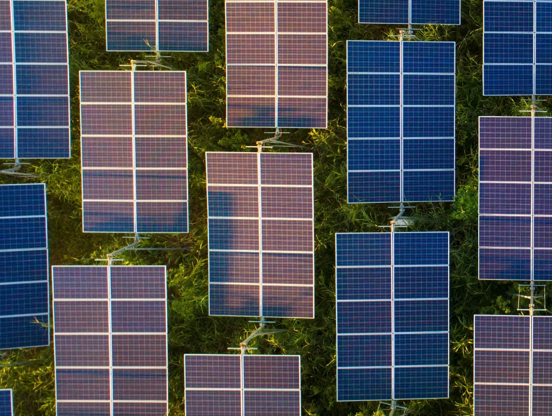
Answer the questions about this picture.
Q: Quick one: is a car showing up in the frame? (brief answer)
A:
No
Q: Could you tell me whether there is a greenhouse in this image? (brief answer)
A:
No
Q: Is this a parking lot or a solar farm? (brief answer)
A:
solar farm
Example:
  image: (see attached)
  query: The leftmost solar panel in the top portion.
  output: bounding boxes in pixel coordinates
[0,0,70,165]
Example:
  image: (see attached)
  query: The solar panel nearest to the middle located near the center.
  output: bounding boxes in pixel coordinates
[206,141,314,324]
